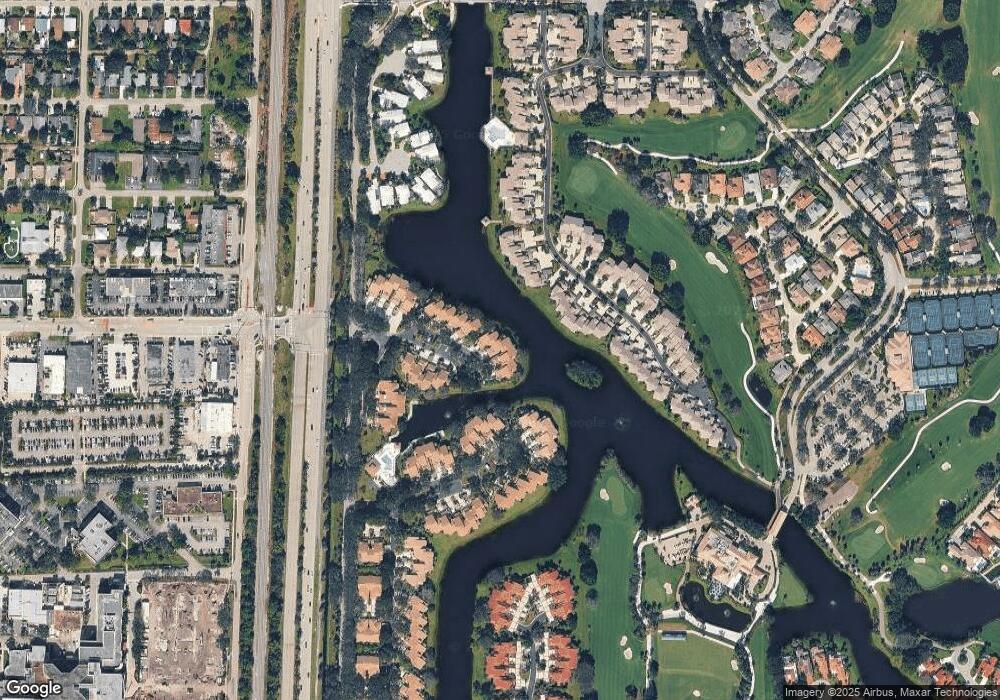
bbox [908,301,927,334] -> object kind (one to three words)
tennis court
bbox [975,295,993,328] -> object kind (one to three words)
tennis court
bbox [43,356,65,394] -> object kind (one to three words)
building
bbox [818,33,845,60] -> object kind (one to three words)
house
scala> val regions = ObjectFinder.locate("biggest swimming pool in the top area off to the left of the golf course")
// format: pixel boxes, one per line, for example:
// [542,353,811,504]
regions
[483,117,514,149]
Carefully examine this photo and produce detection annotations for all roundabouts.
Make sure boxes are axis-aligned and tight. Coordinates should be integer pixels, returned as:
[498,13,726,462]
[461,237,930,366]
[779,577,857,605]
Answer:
[951,647,985,700]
